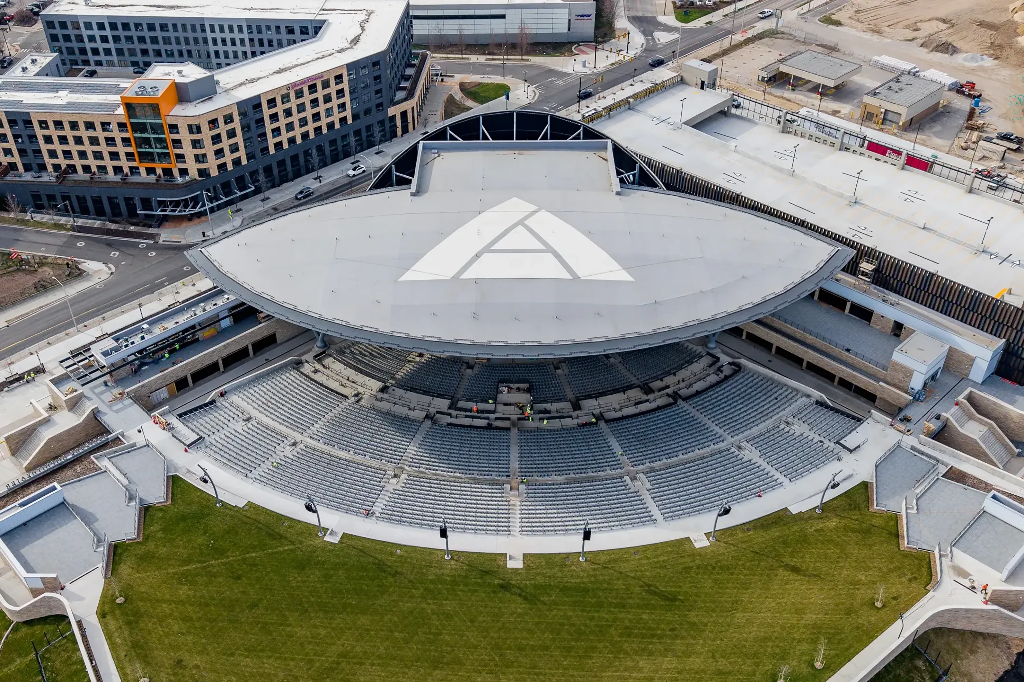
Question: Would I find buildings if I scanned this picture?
Yes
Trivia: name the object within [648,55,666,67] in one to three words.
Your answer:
vehicle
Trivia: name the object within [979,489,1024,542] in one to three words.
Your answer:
building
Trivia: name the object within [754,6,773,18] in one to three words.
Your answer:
vehicle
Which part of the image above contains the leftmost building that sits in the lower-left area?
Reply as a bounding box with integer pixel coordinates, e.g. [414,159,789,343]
[0,481,68,539]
